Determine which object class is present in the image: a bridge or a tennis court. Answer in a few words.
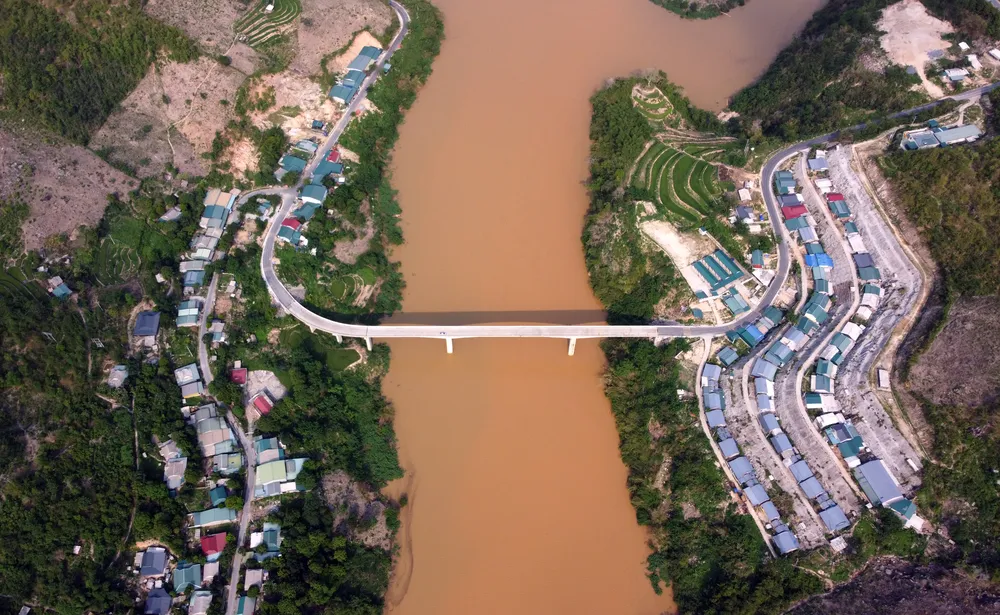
bridge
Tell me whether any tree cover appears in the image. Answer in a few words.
Yes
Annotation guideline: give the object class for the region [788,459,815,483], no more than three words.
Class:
house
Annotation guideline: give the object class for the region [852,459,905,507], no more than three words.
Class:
building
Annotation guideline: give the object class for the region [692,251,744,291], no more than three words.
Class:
building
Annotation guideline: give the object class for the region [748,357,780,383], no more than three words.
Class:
house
